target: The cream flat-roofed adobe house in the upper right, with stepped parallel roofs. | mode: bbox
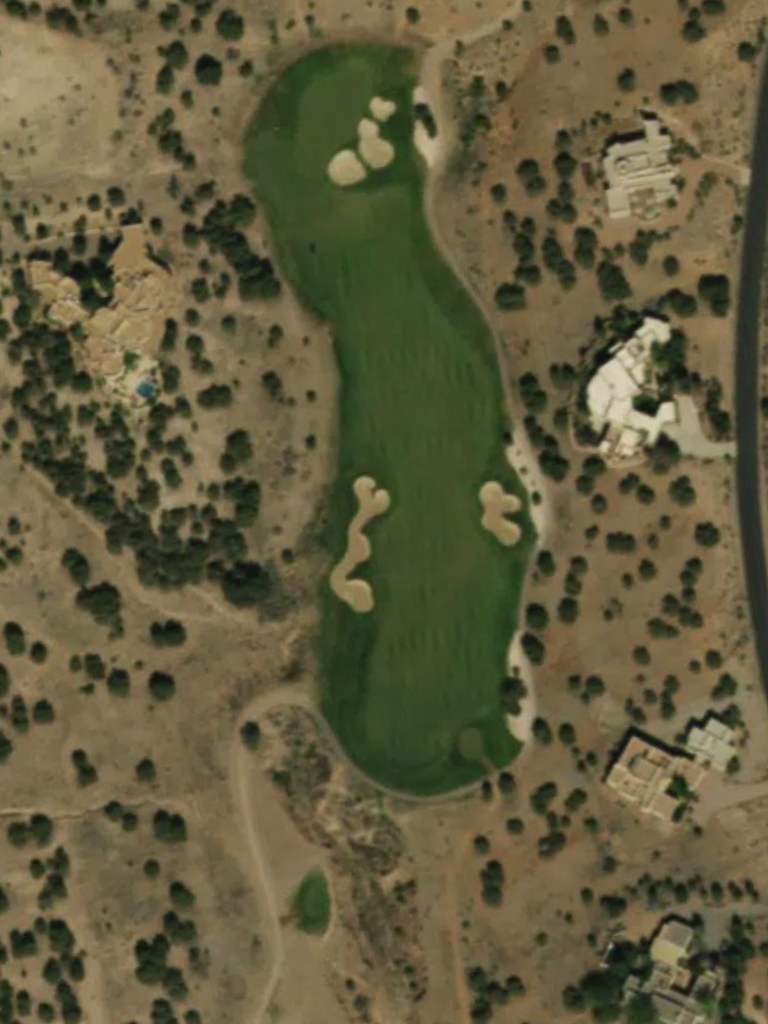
[603,119,679,222]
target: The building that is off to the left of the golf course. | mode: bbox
[28,255,173,406]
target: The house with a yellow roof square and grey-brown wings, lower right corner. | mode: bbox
[620,922,722,1024]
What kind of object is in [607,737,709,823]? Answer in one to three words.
house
